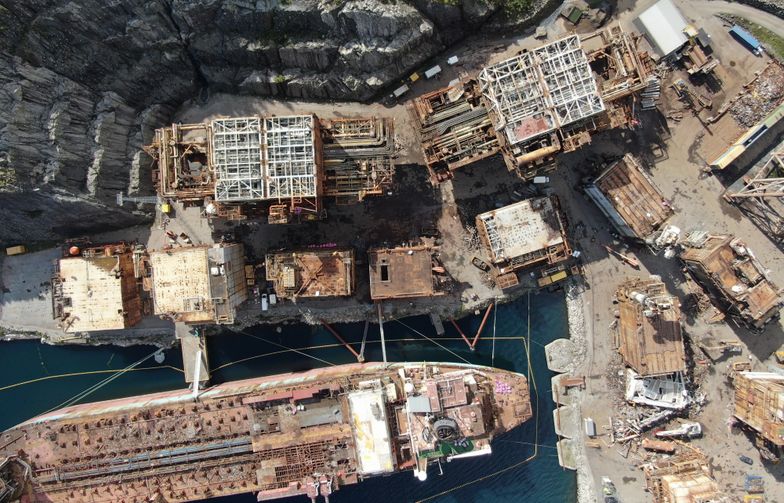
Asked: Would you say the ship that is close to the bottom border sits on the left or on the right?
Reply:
left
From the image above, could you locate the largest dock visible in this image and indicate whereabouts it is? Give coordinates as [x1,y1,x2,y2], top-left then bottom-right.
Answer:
[174,321,212,388]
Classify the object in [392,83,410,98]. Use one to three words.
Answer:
vehicle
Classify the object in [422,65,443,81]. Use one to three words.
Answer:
vehicle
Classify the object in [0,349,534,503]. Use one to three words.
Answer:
ship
